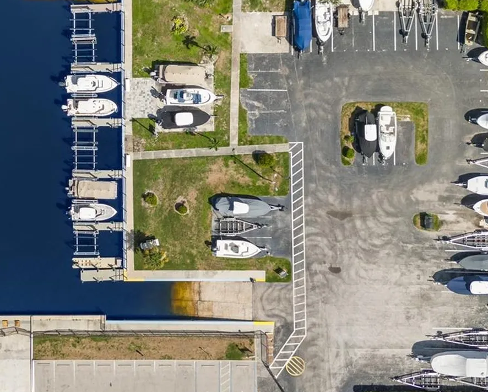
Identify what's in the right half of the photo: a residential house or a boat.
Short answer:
boat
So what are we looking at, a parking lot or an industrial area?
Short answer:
parking lot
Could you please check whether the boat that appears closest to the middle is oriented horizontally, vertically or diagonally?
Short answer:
horizontally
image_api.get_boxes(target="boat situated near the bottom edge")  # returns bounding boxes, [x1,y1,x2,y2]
[429,351,488,375]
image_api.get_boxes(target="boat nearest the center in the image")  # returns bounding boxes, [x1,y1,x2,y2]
[209,195,271,216]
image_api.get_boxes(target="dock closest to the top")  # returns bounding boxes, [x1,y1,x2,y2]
[70,2,121,14]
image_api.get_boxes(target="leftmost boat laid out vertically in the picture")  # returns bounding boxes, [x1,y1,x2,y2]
[291,0,310,51]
